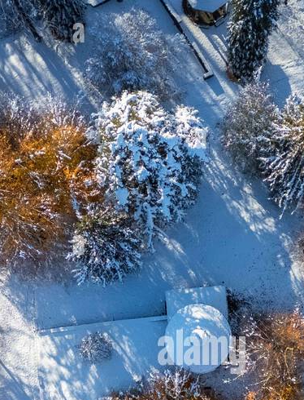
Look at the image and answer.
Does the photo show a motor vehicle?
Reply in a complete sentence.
No, I find no motor vehicle anywhere in the image.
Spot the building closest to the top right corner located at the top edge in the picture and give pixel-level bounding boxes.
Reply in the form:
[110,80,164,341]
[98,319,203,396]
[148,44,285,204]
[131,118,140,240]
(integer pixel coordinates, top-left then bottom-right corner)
[187,0,230,30]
